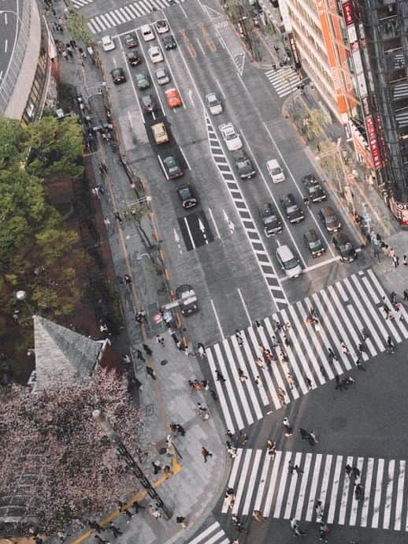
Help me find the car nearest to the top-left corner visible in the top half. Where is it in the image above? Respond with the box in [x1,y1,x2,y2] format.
[100,36,116,53]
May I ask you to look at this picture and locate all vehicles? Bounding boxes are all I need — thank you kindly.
[151,123,170,145]
[259,205,283,236]
[154,69,171,87]
[176,183,198,211]
[140,26,157,42]
[206,93,224,115]
[147,48,164,64]
[123,33,139,50]
[274,239,302,278]
[279,194,305,224]
[164,89,182,109]
[234,153,255,180]
[125,51,141,69]
[134,72,152,90]
[331,233,359,268]
[264,158,287,185]
[221,126,242,149]
[163,156,184,182]
[301,227,328,262]
[110,69,128,87]
[161,35,178,52]
[100,36,116,53]
[316,199,344,237]
[138,94,157,113]
[301,174,327,203]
